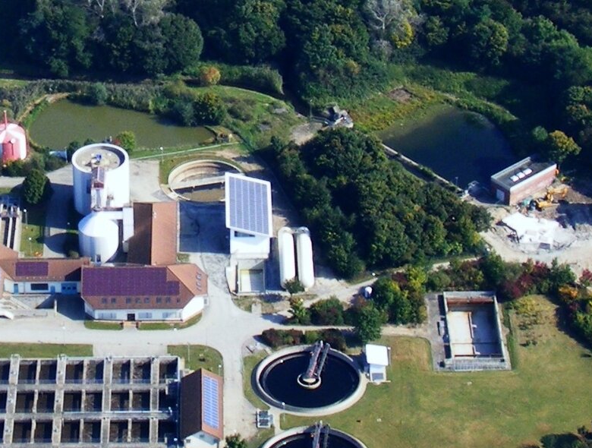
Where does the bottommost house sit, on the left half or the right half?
left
